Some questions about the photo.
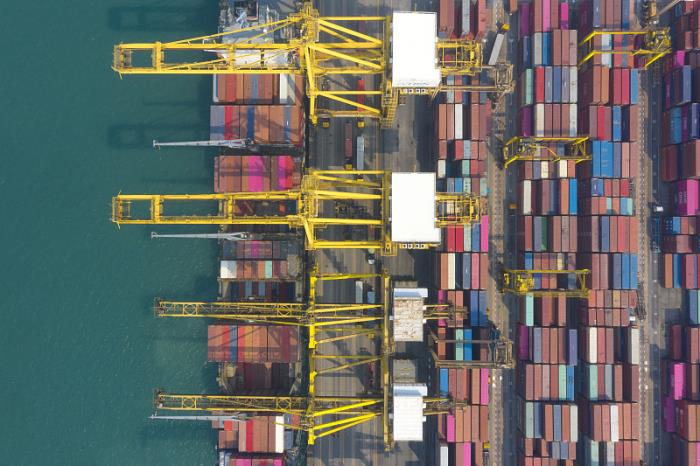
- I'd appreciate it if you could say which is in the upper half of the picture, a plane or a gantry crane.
gantry crane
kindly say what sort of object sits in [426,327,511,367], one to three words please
container crane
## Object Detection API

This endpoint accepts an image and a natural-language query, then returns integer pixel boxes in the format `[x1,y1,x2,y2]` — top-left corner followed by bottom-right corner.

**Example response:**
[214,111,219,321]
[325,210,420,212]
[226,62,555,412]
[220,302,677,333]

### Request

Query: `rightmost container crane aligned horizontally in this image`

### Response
[576,30,670,74]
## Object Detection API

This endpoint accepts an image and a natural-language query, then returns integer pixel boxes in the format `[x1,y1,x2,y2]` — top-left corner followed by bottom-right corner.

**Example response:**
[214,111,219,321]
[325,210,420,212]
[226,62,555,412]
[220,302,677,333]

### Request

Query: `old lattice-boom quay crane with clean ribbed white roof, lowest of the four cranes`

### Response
[150,340,470,454]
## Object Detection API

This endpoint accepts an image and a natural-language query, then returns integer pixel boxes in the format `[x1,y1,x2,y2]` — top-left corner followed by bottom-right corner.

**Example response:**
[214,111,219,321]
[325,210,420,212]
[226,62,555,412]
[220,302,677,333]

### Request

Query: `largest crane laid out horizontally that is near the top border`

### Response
[112,2,489,132]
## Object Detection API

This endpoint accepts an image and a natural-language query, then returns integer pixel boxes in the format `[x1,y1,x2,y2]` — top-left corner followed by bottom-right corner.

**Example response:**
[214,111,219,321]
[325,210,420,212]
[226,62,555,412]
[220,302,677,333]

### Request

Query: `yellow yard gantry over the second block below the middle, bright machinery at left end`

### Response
[500,263,594,297]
